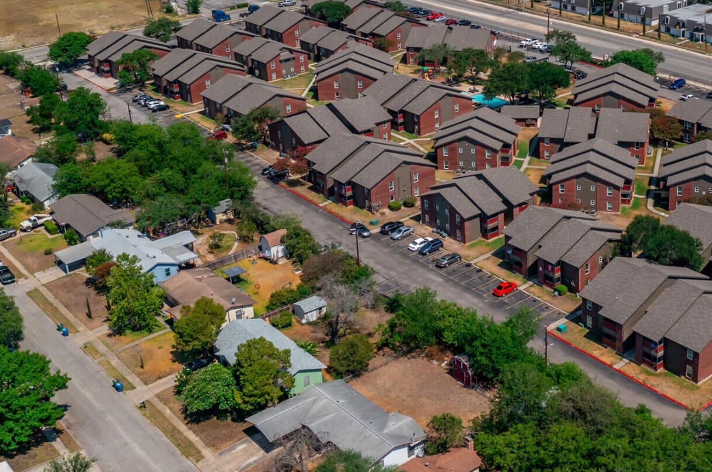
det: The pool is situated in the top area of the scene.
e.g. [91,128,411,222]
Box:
[459,94,504,107]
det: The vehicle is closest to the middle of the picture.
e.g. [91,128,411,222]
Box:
[350,223,372,238]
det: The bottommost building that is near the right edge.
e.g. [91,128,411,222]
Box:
[580,257,712,383]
